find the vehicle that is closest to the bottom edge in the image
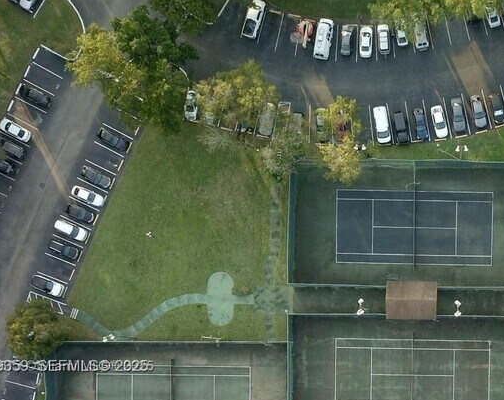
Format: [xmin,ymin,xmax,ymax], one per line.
[32,276,65,296]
